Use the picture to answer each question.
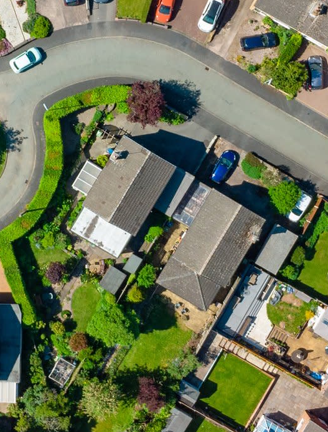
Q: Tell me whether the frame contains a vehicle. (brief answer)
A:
Yes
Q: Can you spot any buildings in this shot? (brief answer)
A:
Yes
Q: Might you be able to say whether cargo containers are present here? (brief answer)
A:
No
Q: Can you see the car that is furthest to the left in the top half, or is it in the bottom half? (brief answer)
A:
top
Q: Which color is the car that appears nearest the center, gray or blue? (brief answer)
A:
blue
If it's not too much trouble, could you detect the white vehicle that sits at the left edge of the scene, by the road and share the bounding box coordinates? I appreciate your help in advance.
[6,46,46,74]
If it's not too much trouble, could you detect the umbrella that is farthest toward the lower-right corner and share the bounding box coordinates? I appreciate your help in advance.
[291,347,308,363]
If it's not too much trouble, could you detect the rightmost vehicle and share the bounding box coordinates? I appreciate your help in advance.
[307,55,324,89]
